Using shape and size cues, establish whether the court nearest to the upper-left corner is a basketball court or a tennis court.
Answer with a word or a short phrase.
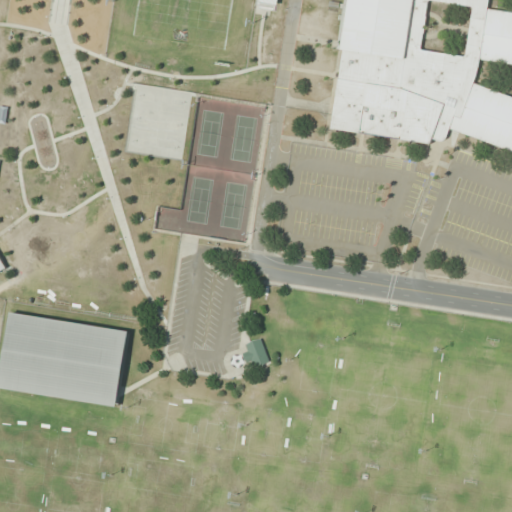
basketball court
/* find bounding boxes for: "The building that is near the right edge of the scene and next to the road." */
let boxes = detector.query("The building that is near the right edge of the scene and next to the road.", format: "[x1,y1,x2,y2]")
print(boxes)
[332,0,512,150]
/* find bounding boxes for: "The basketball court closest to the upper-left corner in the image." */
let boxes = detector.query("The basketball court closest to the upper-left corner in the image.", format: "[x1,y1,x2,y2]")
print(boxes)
[127,84,192,160]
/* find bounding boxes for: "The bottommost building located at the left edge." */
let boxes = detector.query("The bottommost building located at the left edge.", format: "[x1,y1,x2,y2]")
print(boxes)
[0,312,130,407]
